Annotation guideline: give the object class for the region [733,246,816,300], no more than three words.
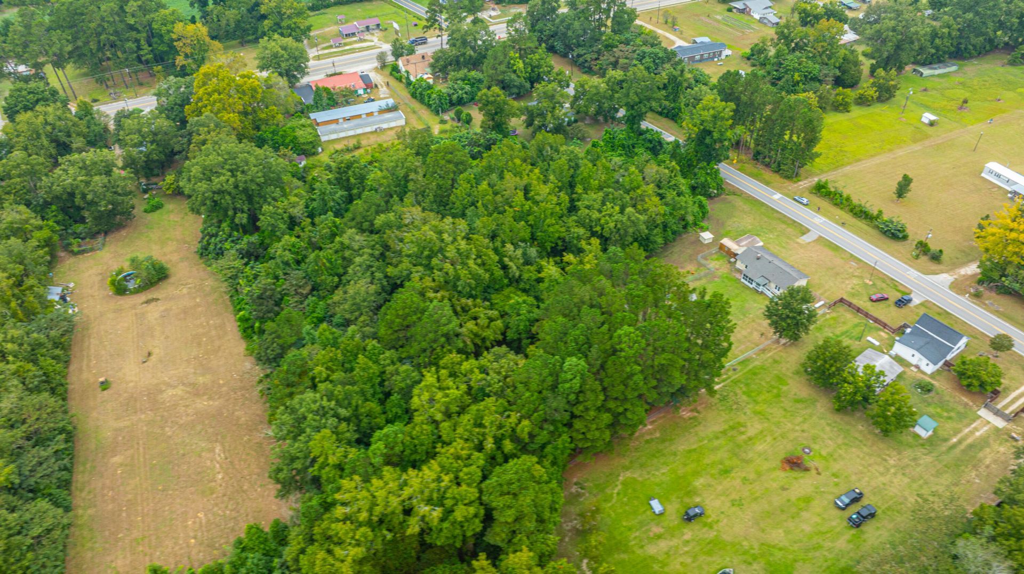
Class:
house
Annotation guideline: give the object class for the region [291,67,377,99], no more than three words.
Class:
building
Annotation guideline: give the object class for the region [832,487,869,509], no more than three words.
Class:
truck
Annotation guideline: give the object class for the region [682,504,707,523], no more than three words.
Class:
car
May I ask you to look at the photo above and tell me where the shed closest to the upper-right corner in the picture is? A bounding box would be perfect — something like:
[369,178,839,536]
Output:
[912,60,960,76]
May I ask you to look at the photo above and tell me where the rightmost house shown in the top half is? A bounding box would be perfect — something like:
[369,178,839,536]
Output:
[981,162,1024,196]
